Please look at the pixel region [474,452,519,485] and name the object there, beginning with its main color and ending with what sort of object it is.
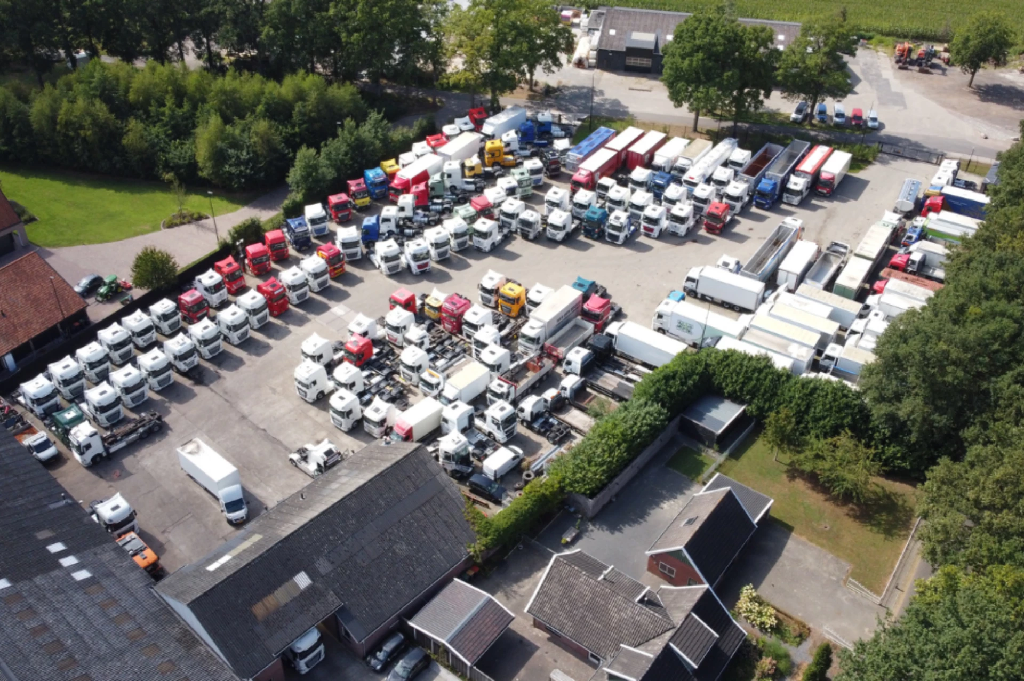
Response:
white van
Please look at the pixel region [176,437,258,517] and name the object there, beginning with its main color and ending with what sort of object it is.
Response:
white van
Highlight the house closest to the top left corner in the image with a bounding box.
[0,190,28,248]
